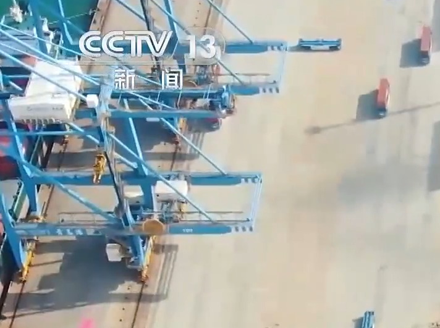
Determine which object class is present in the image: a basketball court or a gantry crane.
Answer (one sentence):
I can see a gantry crane in this picture.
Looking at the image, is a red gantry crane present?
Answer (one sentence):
No, there's no red gantry crane here.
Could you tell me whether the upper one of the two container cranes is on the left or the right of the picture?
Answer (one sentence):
You can find the upper one of the two container cranes on the left side of the picture.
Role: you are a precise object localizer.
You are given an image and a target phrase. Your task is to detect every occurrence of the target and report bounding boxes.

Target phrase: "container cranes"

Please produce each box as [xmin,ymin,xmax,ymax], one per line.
[21,0,286,147]
[0,24,259,291]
